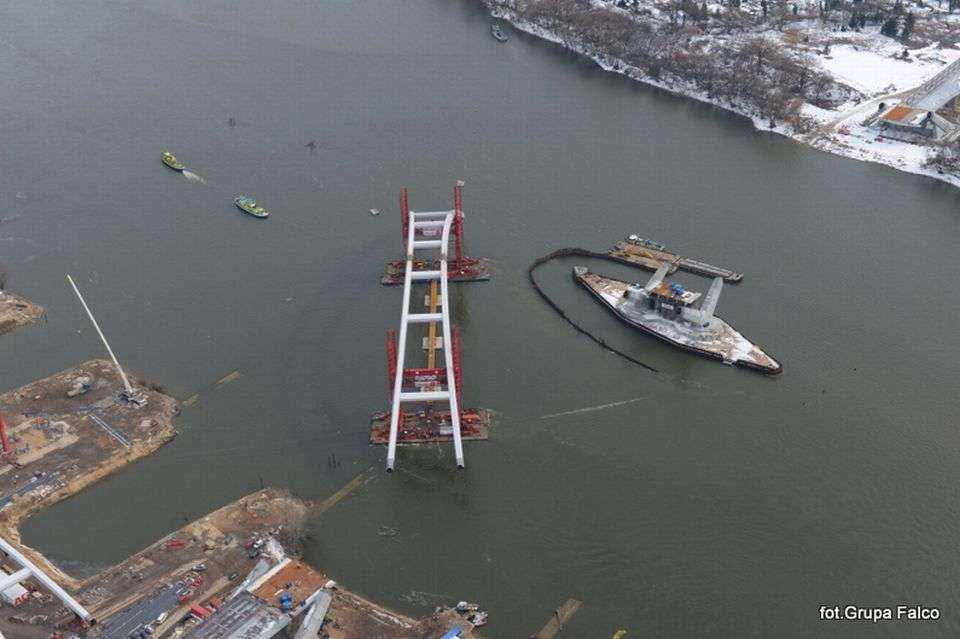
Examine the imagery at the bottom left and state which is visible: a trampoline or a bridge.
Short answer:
bridge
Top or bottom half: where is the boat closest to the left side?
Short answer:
top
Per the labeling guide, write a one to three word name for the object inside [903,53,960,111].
bridge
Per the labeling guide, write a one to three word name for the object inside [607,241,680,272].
ship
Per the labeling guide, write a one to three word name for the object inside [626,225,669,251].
boat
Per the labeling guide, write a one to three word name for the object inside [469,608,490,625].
boat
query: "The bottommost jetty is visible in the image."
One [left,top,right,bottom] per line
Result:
[532,597,583,639]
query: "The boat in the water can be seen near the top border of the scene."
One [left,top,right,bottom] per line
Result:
[489,22,508,41]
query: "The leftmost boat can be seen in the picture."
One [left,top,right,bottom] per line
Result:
[160,149,188,171]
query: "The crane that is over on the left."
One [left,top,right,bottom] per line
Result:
[65,273,151,407]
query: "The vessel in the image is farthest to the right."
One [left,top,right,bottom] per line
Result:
[673,257,743,284]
